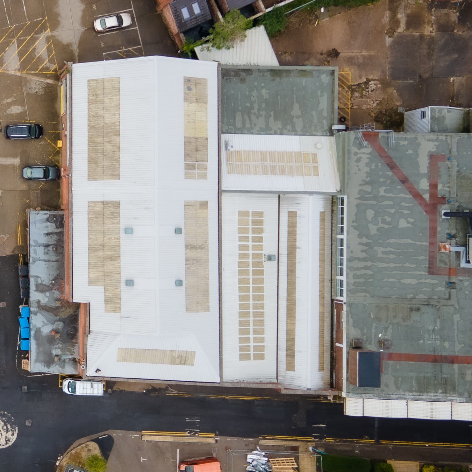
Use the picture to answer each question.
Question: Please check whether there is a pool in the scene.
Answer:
No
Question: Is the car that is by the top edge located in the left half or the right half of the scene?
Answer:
left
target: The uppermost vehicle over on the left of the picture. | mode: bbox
[92,11,132,34]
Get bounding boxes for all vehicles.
[177,456,223,472]
[4,122,43,141]
[62,378,105,397]
[22,164,59,182]
[92,11,132,34]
